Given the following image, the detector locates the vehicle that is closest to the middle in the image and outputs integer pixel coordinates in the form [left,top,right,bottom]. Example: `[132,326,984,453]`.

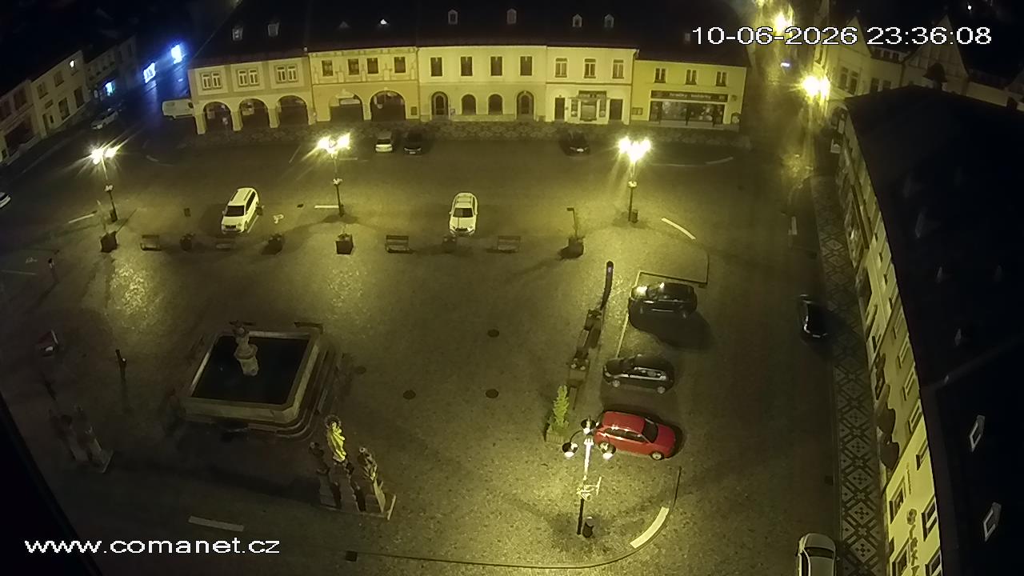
[449,193,479,233]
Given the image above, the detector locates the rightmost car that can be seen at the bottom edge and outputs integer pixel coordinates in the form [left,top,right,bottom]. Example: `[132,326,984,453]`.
[795,540,852,576]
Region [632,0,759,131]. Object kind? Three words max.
house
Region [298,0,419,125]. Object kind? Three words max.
house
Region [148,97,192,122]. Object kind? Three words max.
vehicle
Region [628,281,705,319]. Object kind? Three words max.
car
